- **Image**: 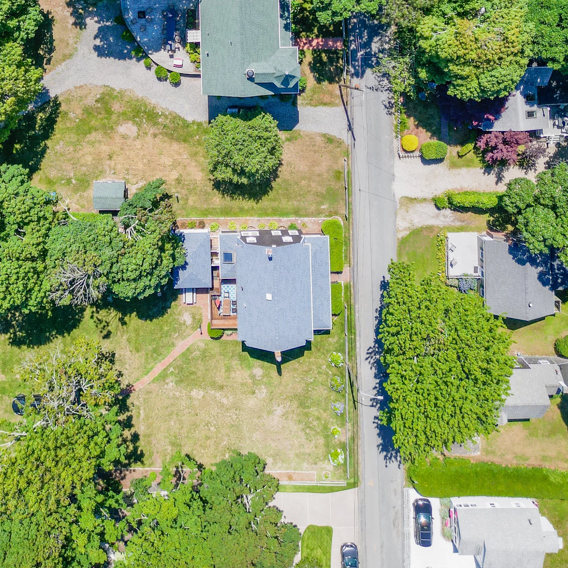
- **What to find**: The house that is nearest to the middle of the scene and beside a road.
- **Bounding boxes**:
[210,227,333,362]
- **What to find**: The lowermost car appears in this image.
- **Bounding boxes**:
[338,538,362,568]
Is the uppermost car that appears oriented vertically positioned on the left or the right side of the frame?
right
